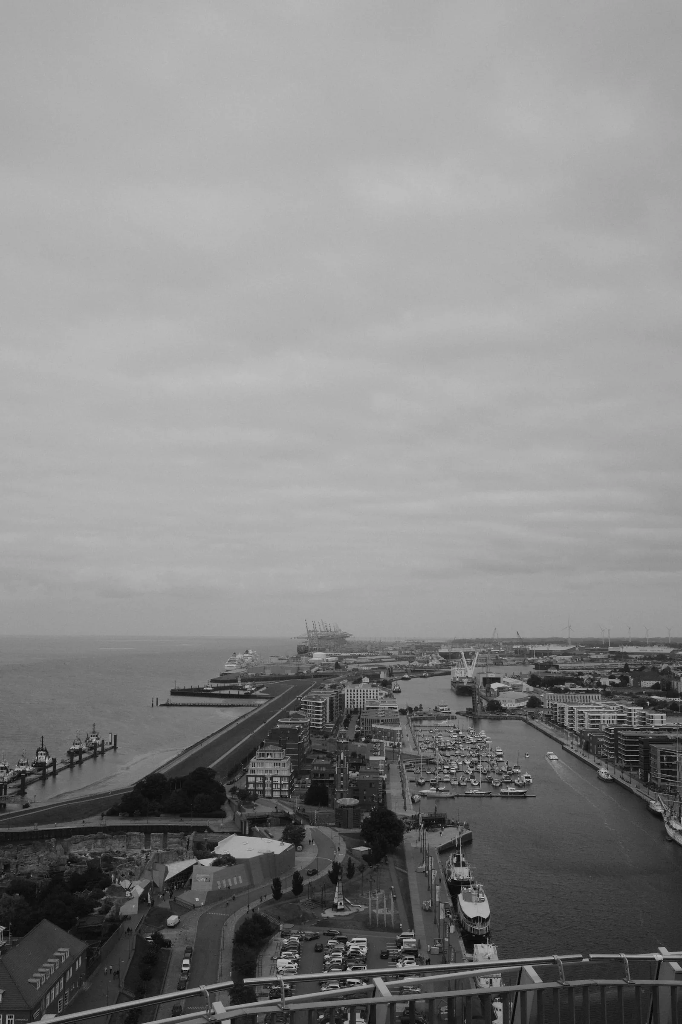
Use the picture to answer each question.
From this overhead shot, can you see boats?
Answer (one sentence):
Yes, I can see a boat in this picture.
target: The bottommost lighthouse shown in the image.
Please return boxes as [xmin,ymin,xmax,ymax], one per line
[335,872,363,915]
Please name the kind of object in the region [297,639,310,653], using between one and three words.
ship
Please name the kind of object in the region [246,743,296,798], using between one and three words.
house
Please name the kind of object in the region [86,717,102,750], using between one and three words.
boat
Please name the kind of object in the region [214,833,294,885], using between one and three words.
building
